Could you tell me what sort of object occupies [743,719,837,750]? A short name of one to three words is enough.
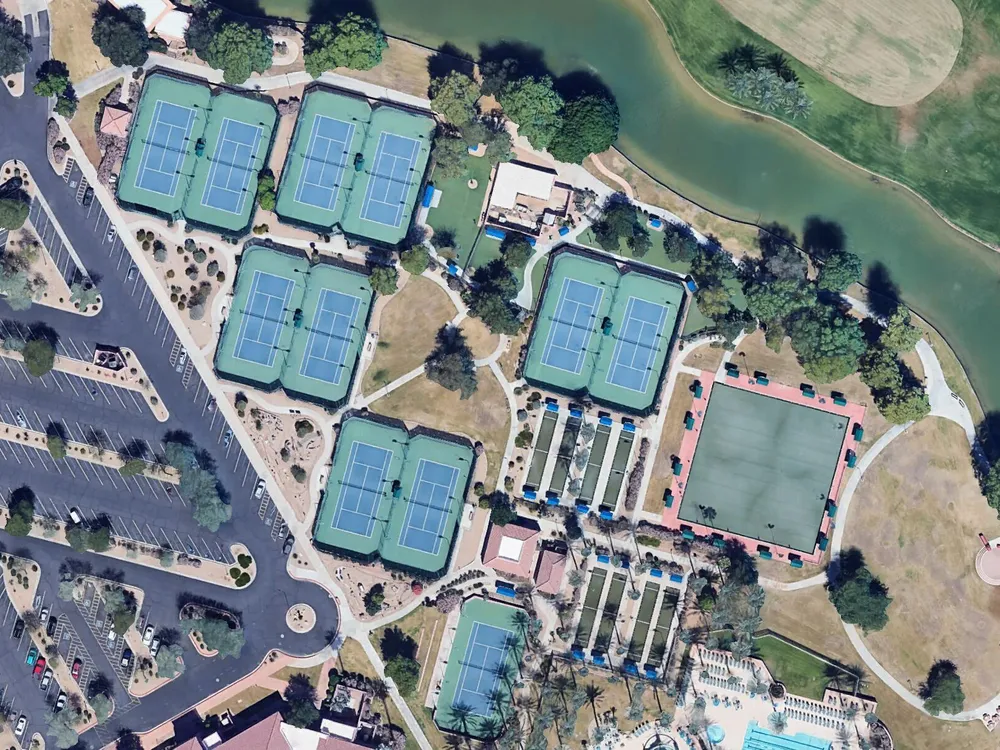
swimming pool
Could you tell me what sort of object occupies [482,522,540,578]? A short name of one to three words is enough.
building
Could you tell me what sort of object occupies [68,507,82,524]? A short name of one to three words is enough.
vehicle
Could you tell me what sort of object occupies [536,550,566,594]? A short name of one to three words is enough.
building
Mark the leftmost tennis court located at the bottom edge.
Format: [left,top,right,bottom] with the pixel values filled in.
[435,595,532,741]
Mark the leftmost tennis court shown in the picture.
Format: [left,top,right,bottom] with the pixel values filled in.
[116,73,215,219]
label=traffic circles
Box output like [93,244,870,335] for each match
[285,604,316,634]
